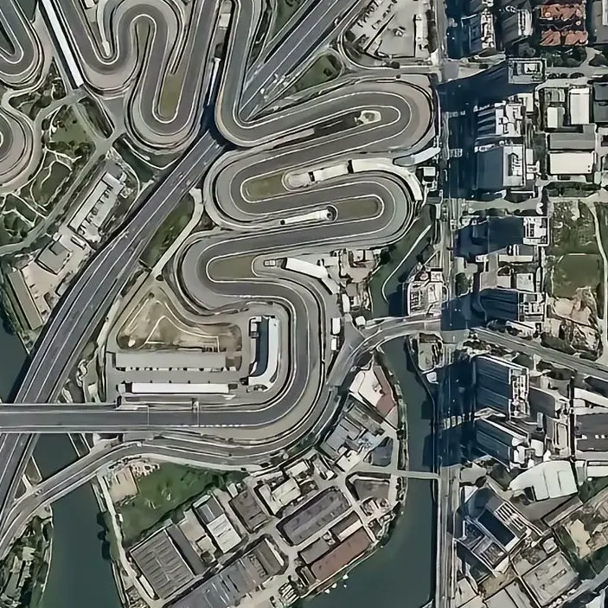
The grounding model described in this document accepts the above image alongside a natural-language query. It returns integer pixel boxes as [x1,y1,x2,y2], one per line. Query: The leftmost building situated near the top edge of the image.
[39,0,85,88]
